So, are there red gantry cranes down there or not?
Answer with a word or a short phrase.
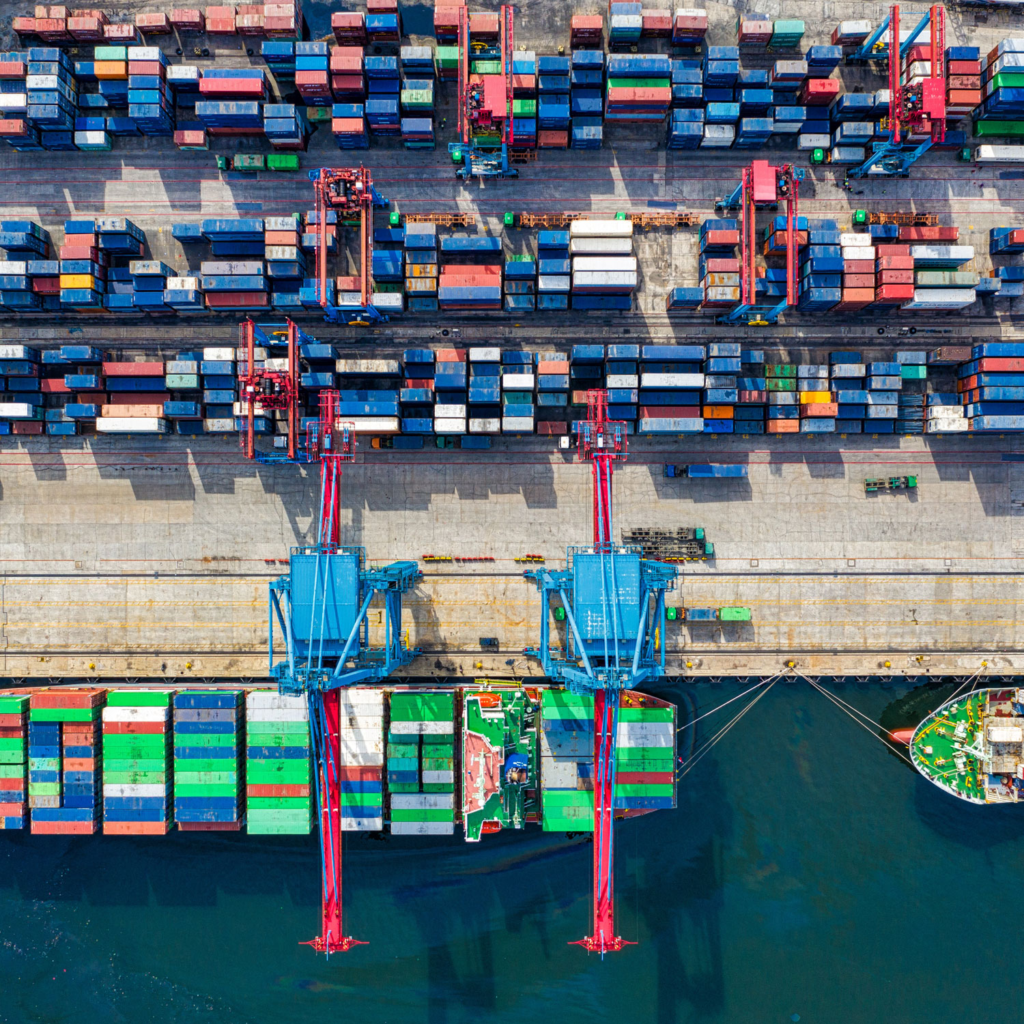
Yes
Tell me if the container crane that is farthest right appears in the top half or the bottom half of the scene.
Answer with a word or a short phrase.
top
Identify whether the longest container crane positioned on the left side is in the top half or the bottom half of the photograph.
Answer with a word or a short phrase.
bottom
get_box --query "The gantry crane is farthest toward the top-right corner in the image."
[847,4,946,178]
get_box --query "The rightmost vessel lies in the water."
[893,682,1024,804]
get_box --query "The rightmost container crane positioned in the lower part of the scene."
[523,388,675,970]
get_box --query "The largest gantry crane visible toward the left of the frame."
[264,389,425,970]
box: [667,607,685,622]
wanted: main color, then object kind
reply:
green vehicle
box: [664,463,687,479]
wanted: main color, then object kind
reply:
blue vehicle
